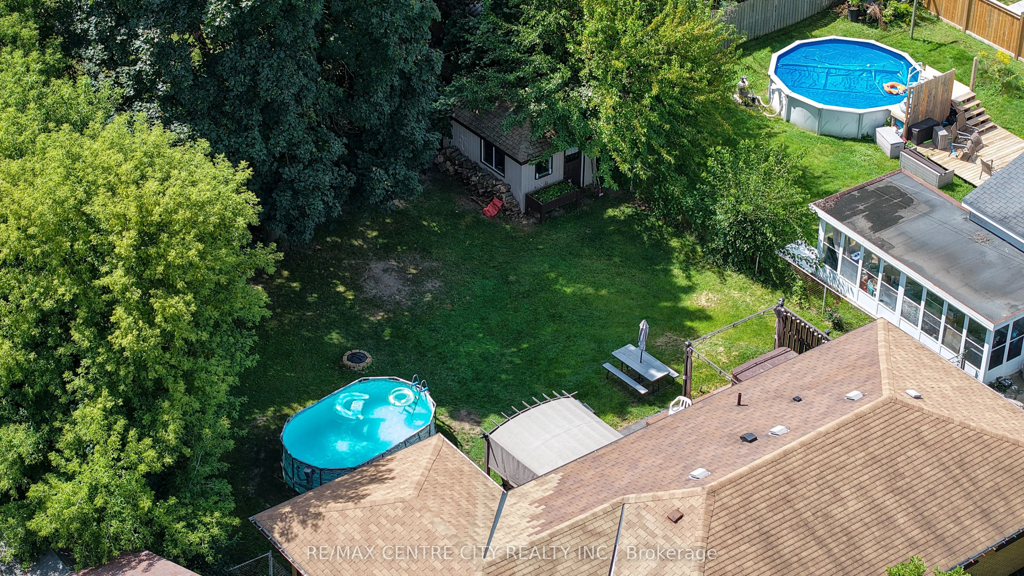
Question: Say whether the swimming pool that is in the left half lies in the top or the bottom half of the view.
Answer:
bottom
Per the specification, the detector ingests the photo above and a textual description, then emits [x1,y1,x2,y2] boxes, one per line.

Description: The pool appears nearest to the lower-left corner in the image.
[279,375,440,491]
